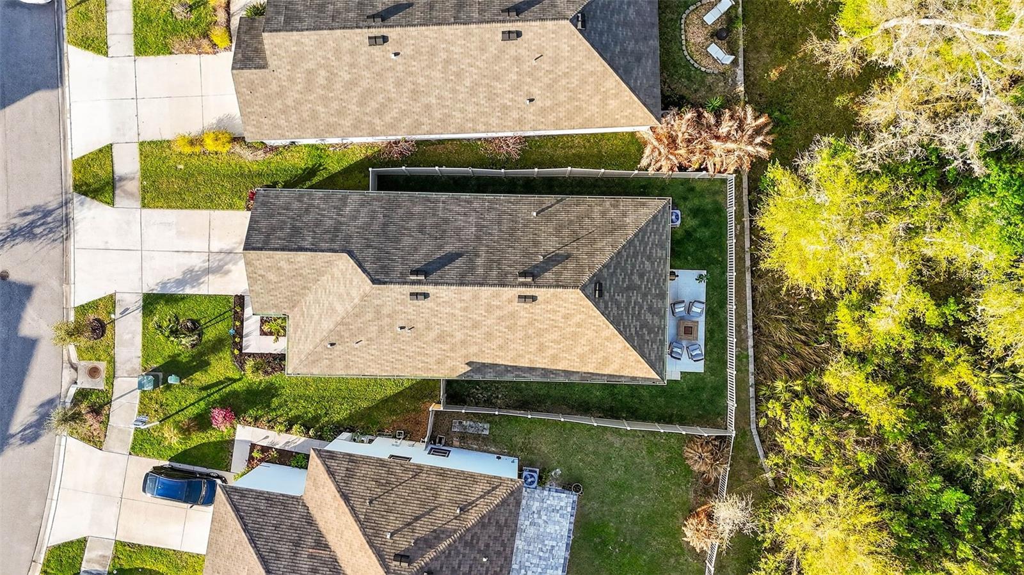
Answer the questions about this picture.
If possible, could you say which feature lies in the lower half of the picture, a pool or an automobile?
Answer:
automobile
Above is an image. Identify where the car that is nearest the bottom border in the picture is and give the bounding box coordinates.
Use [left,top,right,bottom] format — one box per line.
[141,463,227,510]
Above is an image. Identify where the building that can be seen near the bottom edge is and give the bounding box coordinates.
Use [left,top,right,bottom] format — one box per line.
[206,421,525,575]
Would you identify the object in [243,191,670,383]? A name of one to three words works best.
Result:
house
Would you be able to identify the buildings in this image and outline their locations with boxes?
[206,421,525,575]
[232,0,661,144]
[243,191,670,383]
